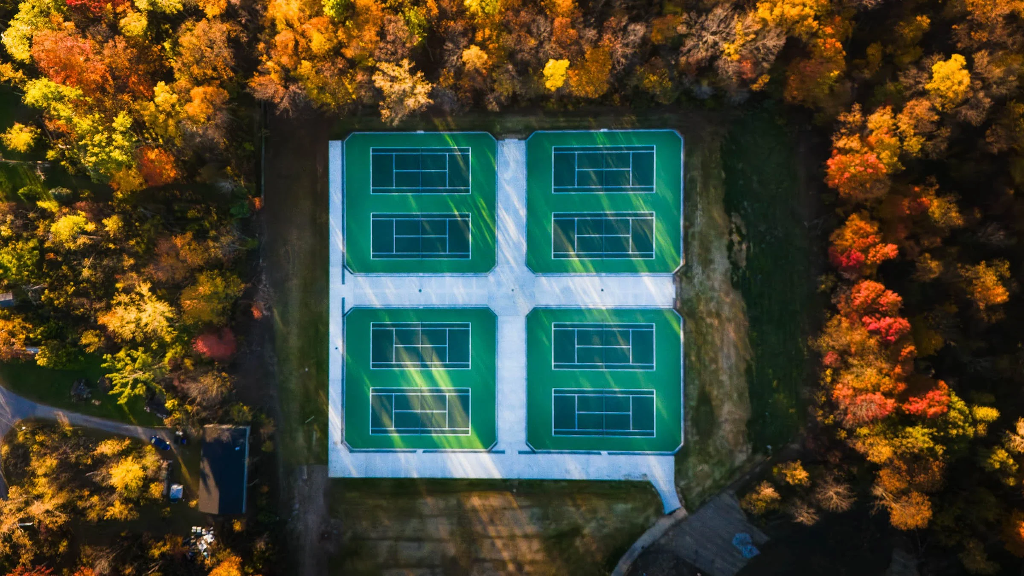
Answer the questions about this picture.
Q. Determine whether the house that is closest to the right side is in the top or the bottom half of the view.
bottom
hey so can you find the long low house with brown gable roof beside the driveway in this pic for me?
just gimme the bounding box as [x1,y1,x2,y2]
[199,428,248,519]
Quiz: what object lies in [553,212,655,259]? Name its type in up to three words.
tennis court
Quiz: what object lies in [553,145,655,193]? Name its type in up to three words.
tennis court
